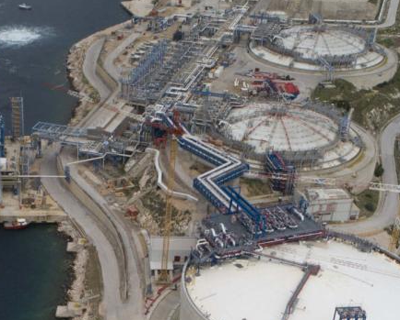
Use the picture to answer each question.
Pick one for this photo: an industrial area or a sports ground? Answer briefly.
industrial area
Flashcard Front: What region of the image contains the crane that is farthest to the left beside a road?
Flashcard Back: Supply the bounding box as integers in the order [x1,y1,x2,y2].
[32,72,202,289]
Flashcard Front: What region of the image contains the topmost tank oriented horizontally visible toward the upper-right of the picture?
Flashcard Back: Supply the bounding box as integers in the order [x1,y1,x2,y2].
[254,24,387,73]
